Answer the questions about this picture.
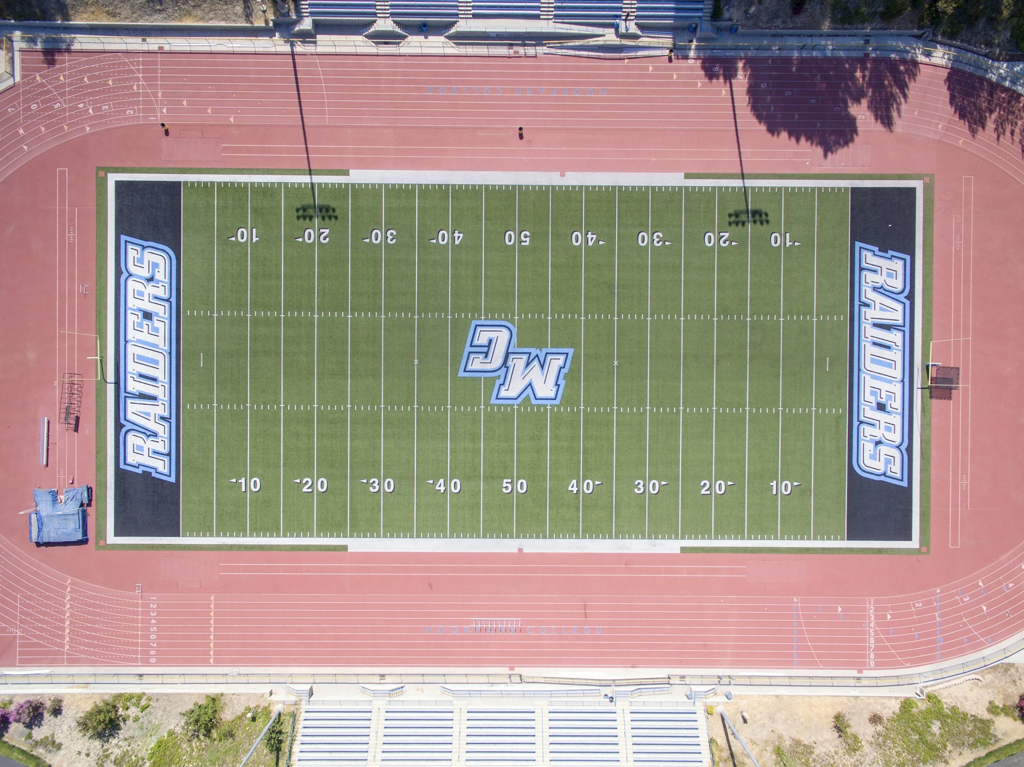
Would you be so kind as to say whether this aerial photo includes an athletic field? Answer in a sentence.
Yes, looking at the shot, I can spot an athletic field.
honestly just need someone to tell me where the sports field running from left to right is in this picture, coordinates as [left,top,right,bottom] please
[95,167,934,555]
